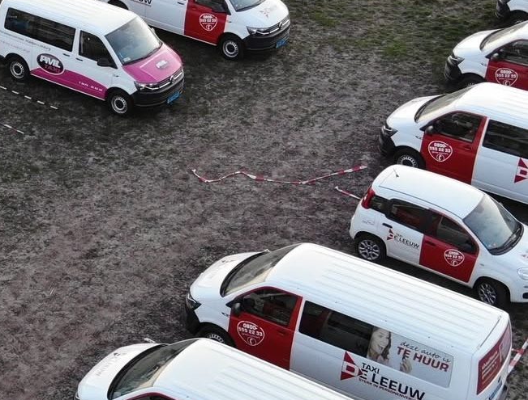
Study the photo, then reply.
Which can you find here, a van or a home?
van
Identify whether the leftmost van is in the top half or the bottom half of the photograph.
top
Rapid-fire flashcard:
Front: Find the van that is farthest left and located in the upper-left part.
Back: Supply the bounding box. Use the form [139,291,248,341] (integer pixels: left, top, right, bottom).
[0,0,182,119]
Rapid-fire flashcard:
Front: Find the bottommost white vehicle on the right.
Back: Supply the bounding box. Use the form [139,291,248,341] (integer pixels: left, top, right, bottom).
[183,242,514,400]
